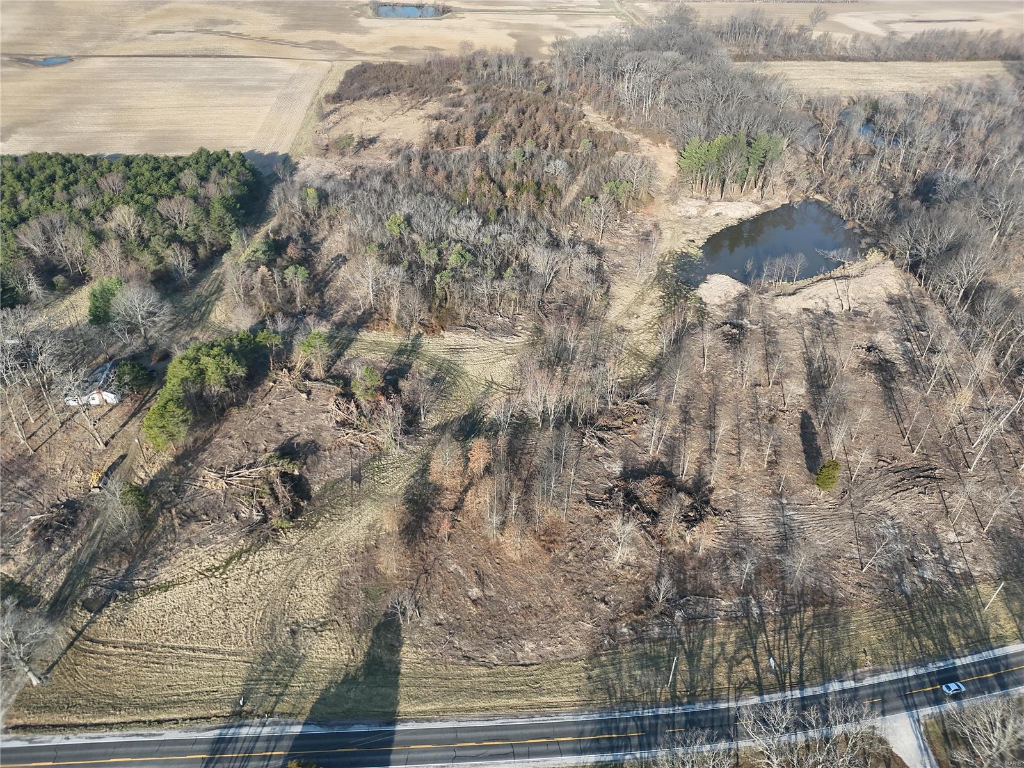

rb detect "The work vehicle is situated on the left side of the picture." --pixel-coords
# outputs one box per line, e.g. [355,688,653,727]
[83,472,106,491]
